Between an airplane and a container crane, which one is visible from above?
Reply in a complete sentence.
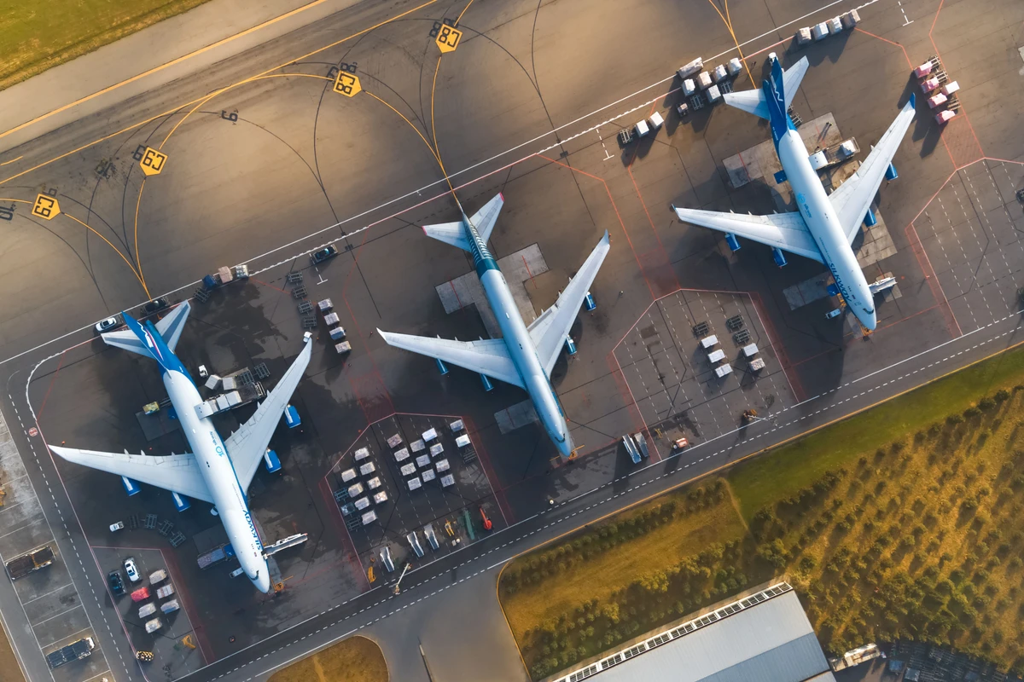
This aerial view contains an airplane.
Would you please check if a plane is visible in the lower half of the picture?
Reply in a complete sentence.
Yes, the scene does show a plane in the lower half of the picture.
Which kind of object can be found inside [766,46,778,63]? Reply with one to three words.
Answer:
vehicle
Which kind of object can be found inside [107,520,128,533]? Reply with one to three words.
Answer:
vehicle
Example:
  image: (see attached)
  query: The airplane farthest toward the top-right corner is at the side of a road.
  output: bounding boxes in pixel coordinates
[668,57,914,329]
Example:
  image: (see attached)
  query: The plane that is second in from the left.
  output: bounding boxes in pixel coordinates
[376,193,611,457]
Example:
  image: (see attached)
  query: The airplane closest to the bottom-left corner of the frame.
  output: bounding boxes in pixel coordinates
[44,299,309,590]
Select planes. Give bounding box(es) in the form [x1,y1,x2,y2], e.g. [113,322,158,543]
[376,193,611,457]
[44,299,309,590]
[668,57,914,329]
